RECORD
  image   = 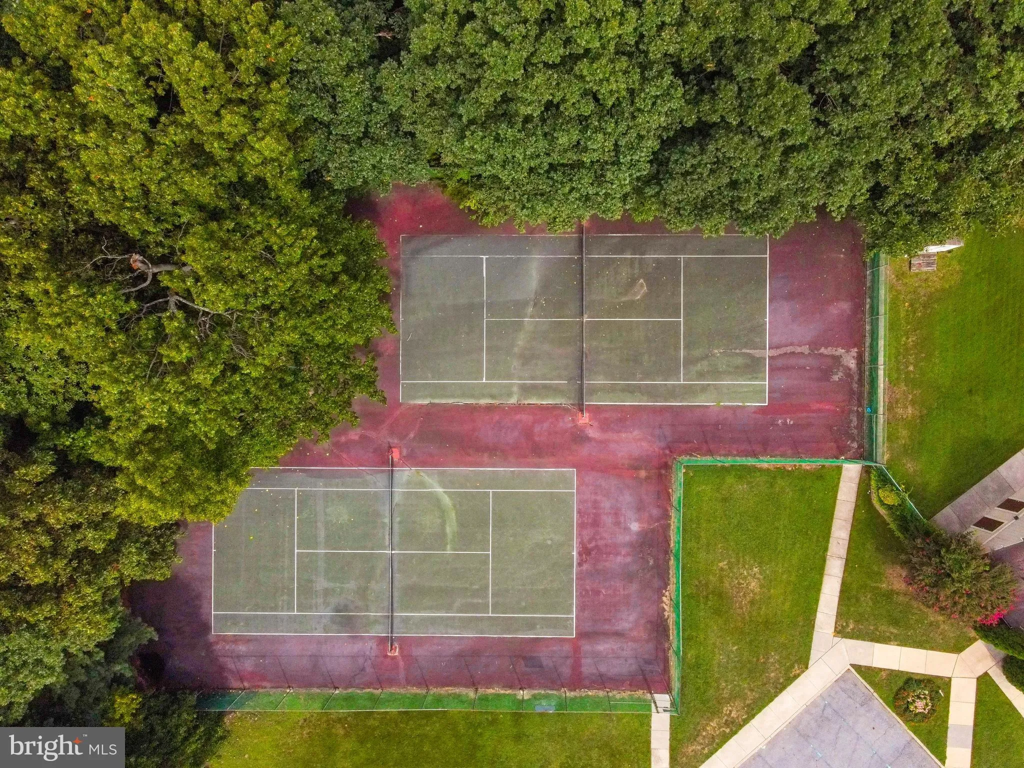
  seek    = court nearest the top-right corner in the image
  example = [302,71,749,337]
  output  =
[400,234,769,405]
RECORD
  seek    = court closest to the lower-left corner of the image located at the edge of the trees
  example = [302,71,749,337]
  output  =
[212,467,576,637]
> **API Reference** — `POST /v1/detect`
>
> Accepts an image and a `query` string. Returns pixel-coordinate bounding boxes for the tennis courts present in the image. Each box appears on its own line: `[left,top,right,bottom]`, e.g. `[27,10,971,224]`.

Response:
[212,467,576,637]
[400,234,769,405]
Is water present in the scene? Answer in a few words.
No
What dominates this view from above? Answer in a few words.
trees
